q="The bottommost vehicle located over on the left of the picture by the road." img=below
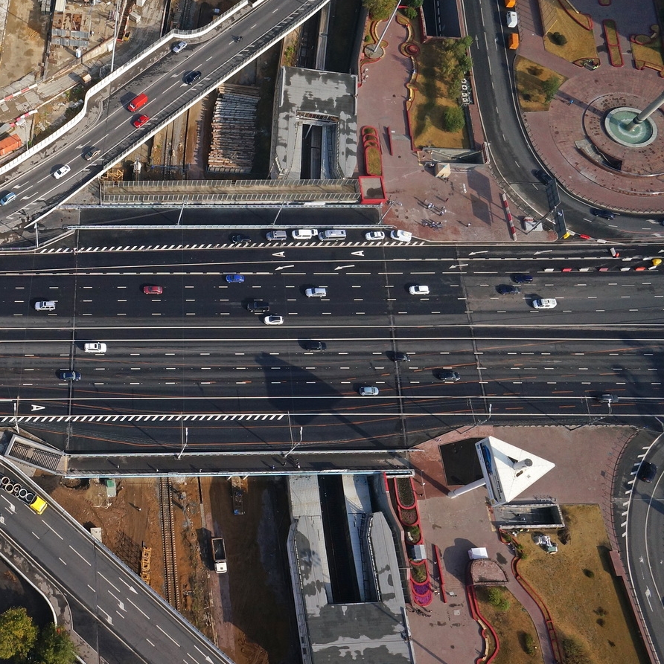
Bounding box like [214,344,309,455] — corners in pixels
[212,535,228,576]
